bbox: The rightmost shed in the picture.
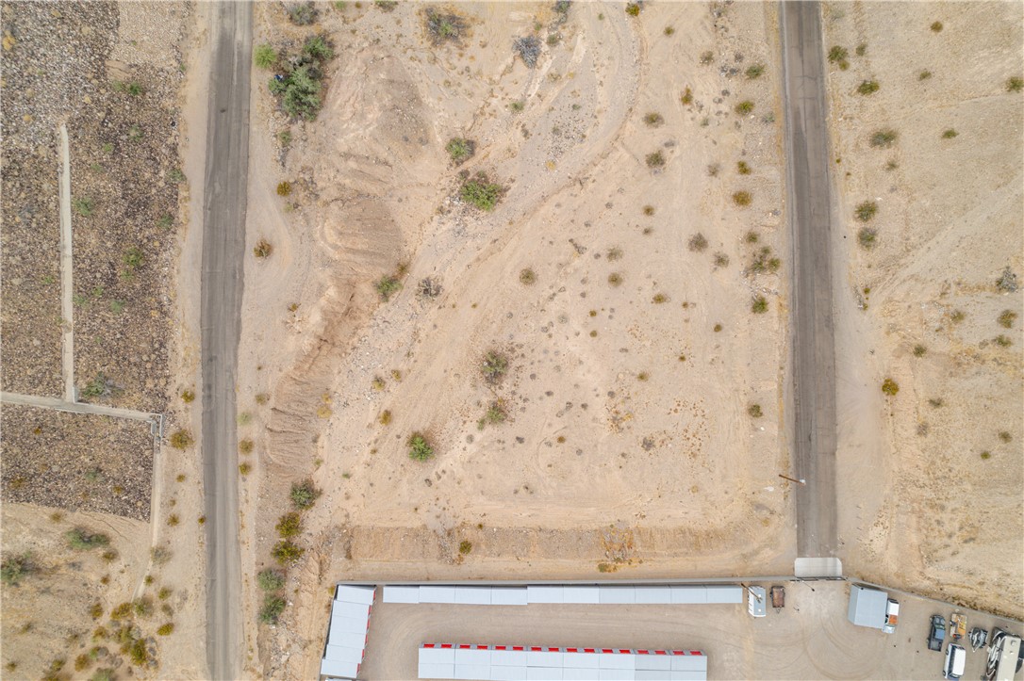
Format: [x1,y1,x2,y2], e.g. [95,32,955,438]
[846,584,887,629]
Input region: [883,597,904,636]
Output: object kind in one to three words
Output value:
truck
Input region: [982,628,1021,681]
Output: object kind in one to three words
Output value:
camper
